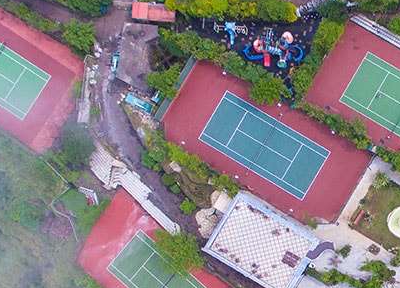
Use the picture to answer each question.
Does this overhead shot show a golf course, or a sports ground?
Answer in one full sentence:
This looks like a sports ground.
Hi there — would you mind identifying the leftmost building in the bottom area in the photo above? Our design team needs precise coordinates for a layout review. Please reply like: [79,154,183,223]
[201,189,335,288]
